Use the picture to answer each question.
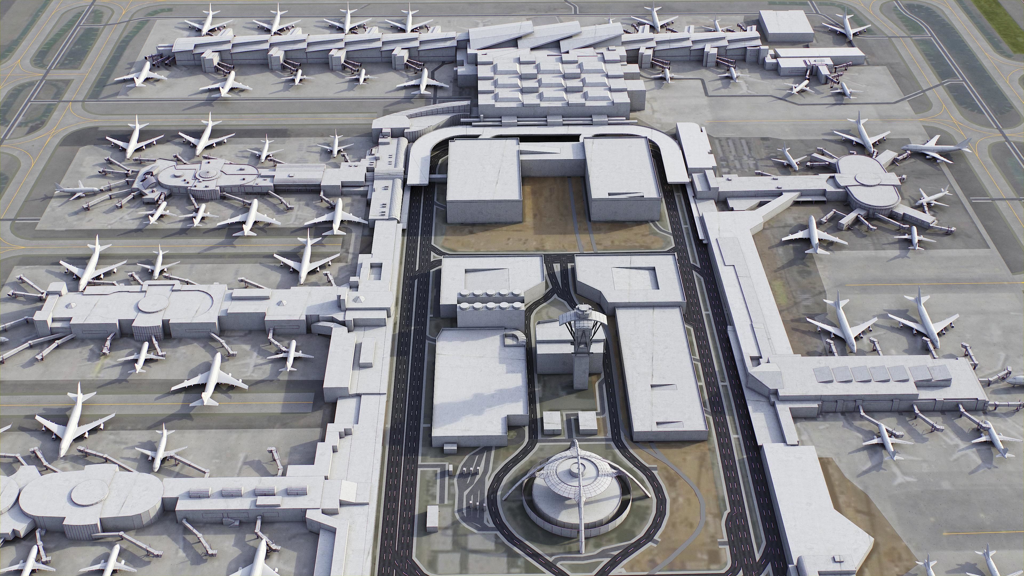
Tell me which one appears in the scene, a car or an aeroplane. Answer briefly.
aeroplane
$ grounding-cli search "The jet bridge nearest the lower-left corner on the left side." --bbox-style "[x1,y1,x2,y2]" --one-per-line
[37,529,54,566]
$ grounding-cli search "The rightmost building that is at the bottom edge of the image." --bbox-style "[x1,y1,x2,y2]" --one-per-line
[761,443,875,576]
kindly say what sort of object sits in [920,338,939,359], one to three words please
jet bridge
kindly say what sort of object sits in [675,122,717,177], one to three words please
building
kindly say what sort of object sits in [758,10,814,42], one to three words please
hangar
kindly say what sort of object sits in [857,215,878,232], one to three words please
jet bridge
